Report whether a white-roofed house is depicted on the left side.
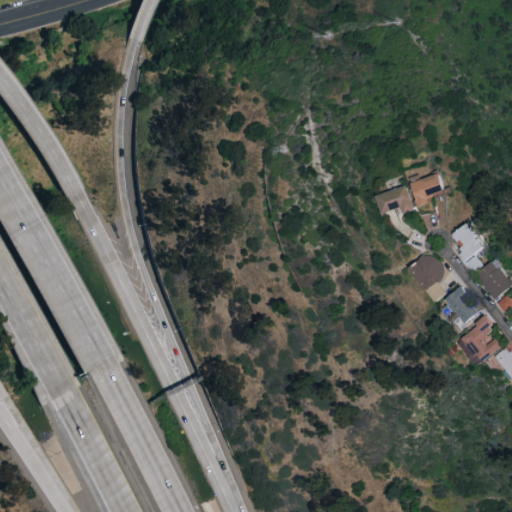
No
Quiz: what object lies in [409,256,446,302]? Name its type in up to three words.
house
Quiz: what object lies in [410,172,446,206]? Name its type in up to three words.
house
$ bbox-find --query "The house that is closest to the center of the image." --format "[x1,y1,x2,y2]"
[375,186,413,215]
